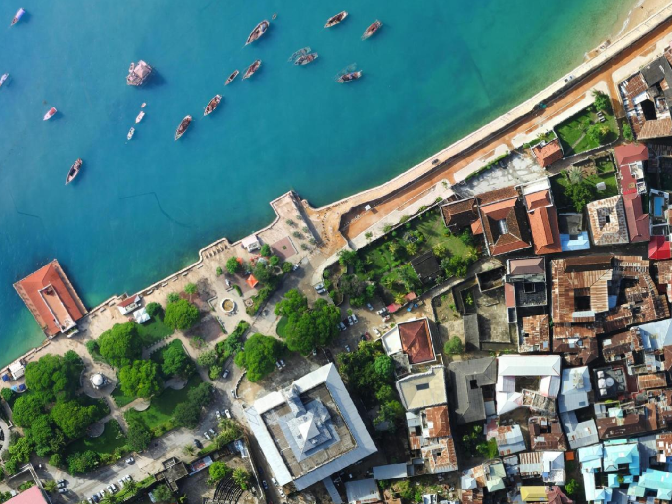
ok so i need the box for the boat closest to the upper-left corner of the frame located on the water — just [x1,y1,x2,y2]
[11,8,25,28]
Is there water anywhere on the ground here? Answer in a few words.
Yes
